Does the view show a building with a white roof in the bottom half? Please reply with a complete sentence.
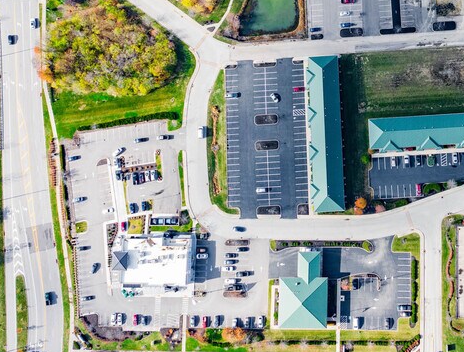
Yes, a building with a white roof is visible in the bottom half.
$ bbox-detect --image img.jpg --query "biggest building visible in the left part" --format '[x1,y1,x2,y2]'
[112,235,198,292]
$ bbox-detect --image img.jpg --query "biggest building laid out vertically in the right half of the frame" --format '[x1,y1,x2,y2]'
[305,57,345,213]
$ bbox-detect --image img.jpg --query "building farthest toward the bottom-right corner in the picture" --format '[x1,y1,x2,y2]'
[279,252,329,329]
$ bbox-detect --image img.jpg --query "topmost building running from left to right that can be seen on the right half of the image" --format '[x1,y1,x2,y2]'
[369,113,464,153]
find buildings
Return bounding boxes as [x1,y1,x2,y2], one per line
[112,235,198,292]
[305,57,345,213]
[369,113,464,153]
[279,252,329,329]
